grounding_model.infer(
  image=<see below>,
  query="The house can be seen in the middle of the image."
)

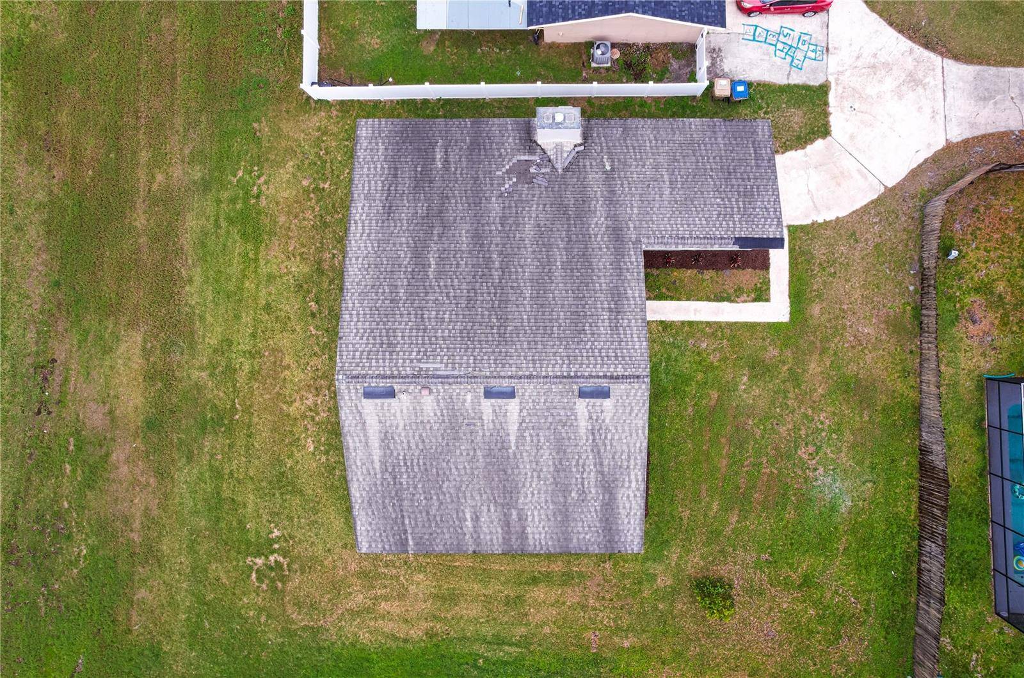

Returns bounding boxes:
[337,104,785,554]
